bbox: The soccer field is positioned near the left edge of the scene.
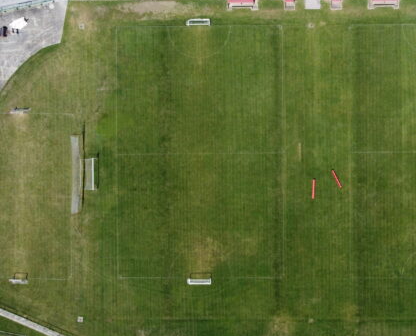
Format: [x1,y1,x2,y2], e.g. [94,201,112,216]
[0,114,71,280]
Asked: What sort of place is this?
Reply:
sports ground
